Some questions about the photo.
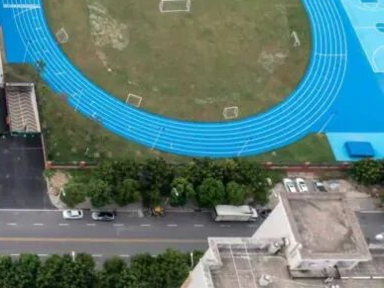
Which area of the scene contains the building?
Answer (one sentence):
Look in the bottom right portion of the view to spot the building.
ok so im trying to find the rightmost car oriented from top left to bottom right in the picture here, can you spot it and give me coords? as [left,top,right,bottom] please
[312,176,330,194]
